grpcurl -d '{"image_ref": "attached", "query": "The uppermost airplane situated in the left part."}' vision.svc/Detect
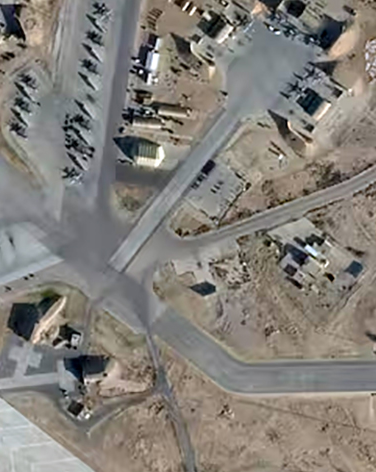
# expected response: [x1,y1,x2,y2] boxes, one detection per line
[97,6,111,21]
